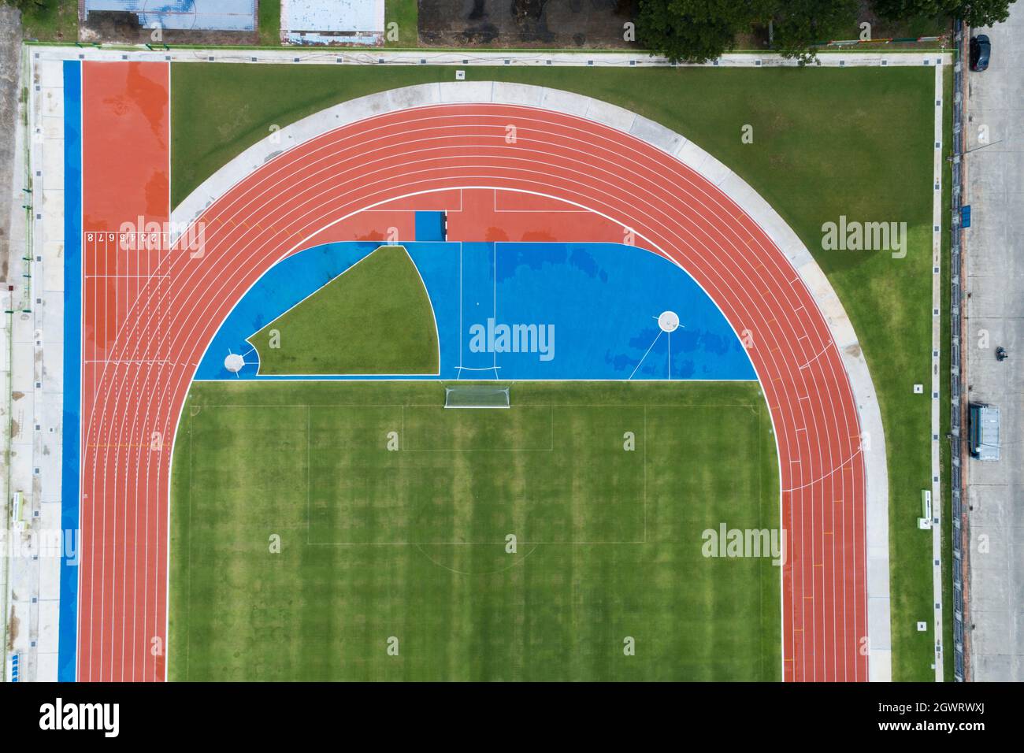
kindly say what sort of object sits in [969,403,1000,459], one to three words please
bus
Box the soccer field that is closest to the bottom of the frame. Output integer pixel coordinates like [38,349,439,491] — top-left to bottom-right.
[164,381,785,753]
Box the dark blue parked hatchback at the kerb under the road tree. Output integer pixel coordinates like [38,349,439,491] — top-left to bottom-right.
[970,34,992,72]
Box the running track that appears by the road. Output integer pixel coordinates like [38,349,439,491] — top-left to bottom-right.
[73,61,873,753]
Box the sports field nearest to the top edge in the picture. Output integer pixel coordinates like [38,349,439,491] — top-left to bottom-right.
[245,245,440,375]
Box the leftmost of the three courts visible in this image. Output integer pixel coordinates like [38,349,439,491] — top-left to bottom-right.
[78,0,258,45]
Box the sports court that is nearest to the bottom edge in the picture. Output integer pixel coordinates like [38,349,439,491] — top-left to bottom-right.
[191,240,759,382]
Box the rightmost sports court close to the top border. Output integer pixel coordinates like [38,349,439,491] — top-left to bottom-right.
[280,0,385,47]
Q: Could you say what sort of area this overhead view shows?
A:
sports ground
